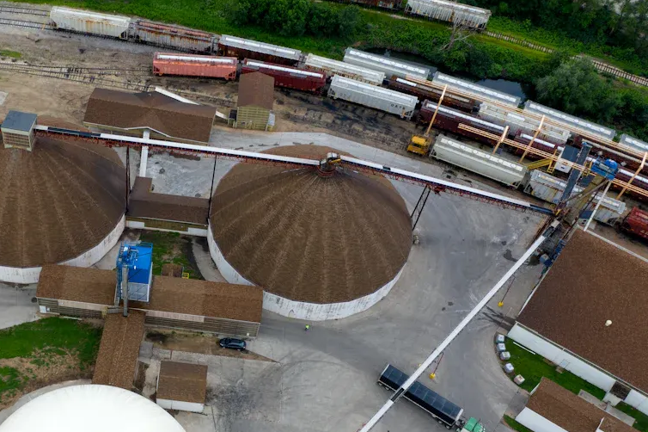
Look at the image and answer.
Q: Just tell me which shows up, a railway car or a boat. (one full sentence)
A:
Of the two, only a railway car appears.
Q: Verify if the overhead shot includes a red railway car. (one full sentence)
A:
Yes, the picture does show a red railway car.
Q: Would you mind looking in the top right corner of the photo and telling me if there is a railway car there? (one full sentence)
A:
Yes, I can see a railway car in the top right corner of the photo.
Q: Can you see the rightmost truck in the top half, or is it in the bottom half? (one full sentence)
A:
You can find the rightmost truck in the bottom half.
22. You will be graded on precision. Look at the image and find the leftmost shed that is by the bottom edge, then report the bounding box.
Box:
[156,359,207,412]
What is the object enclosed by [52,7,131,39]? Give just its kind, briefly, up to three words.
rail car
